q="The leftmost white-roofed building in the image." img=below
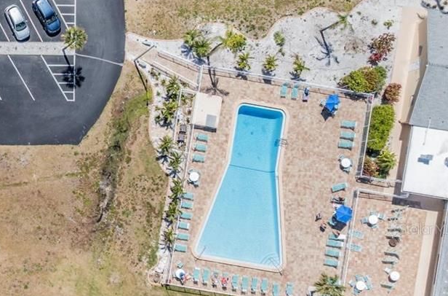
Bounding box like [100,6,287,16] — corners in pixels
[186,93,221,130]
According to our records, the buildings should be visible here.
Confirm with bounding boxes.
[186,93,221,130]
[389,9,448,296]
